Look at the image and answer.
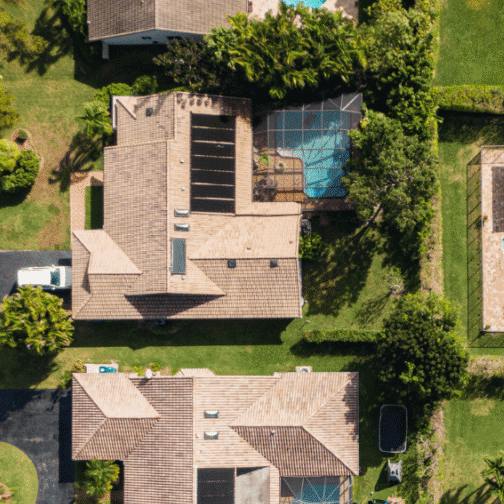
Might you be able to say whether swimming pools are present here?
Yes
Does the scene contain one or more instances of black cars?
No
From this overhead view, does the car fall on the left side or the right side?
left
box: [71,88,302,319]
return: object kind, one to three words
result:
house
